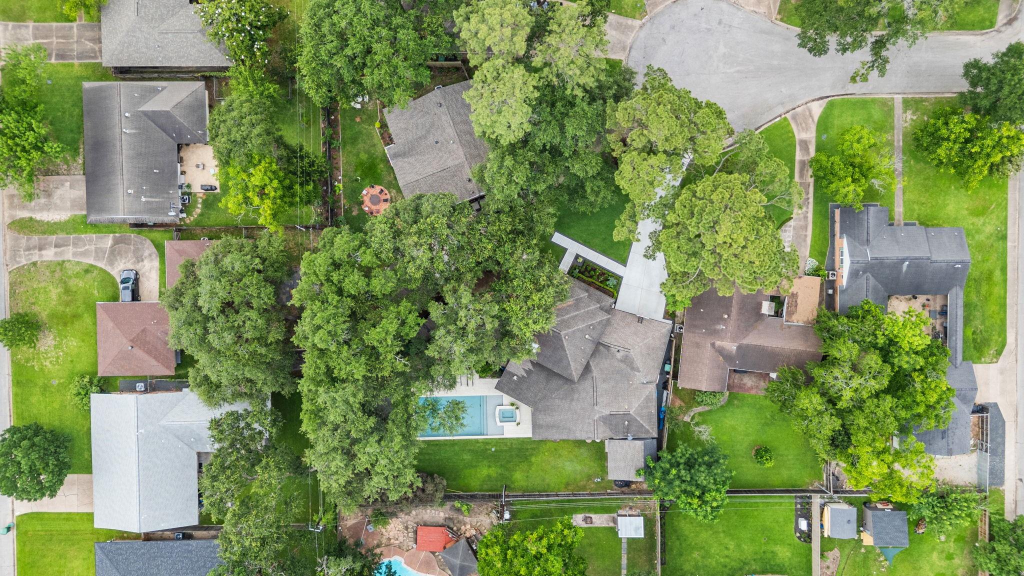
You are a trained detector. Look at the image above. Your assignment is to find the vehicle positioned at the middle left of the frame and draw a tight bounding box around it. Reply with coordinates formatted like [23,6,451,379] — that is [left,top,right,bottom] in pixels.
[119,270,141,301]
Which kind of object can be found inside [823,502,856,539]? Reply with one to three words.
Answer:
shed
